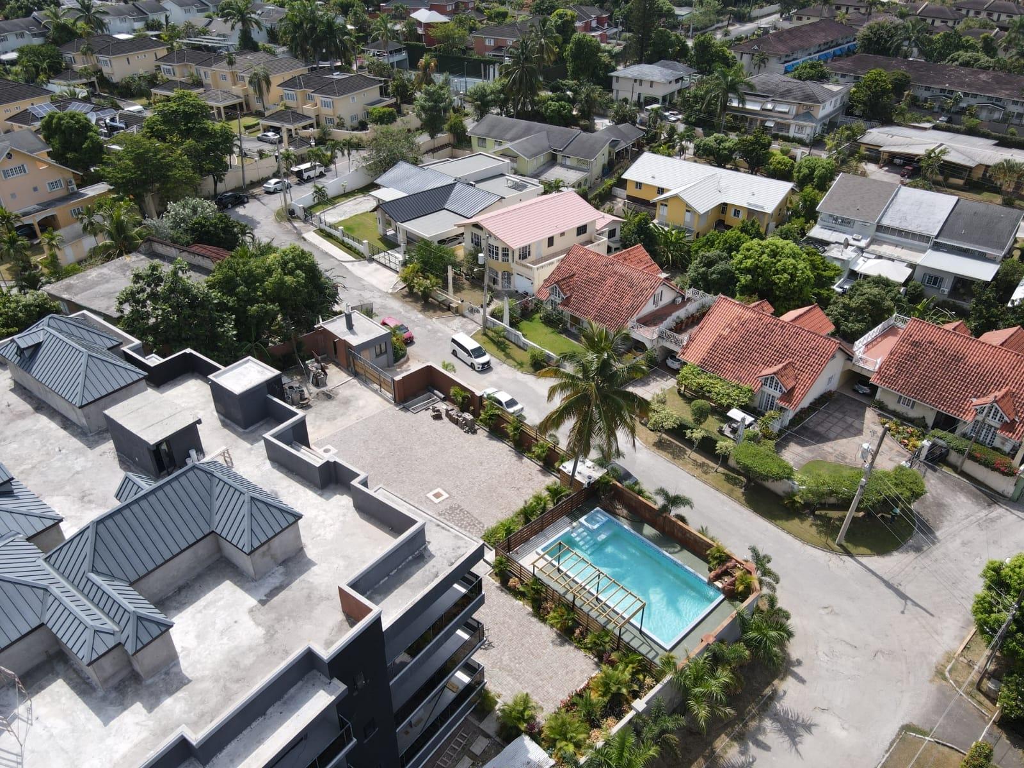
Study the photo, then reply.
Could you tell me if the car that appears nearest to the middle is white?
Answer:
Yes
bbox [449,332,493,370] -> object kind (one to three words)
van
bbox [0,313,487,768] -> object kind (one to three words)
building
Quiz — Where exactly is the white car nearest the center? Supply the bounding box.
[482,385,525,418]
